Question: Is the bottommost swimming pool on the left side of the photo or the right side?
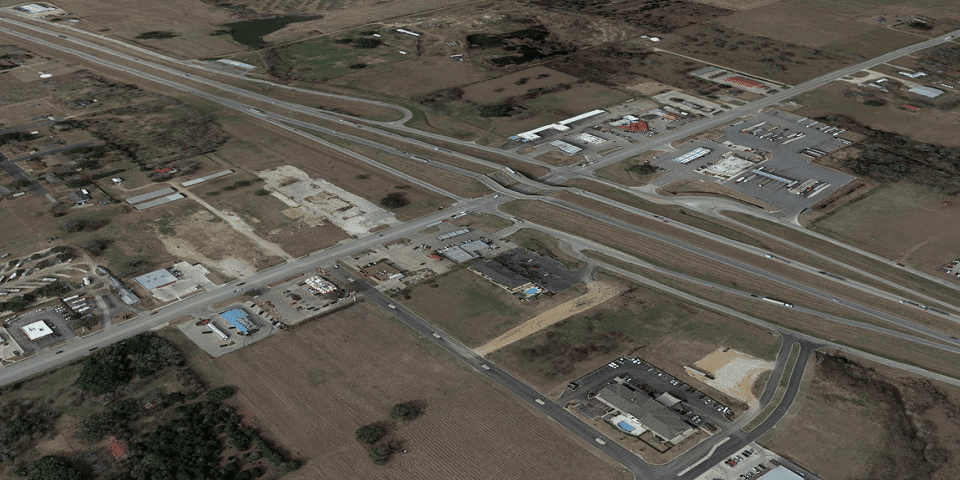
right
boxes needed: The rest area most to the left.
[704,155,745,182]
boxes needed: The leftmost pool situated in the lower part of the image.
[518,284,547,300]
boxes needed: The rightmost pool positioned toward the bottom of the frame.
[611,414,645,435]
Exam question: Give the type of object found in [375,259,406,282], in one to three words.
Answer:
building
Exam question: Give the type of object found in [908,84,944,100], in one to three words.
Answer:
building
